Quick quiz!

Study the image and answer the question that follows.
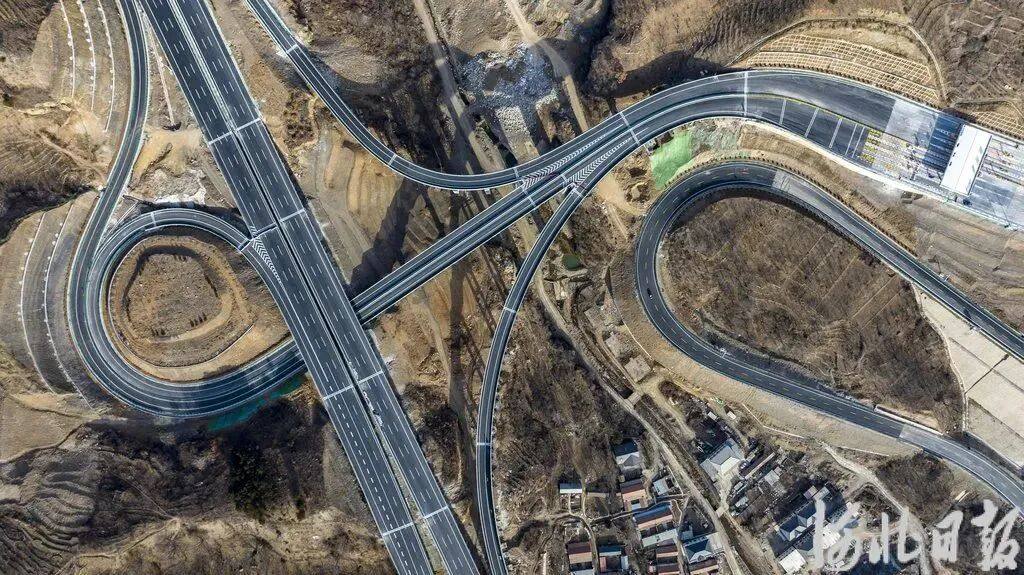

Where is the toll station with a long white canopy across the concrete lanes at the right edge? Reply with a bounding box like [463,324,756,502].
[856,93,1024,232]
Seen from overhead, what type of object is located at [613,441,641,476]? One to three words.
house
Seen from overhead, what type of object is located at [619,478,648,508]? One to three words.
house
